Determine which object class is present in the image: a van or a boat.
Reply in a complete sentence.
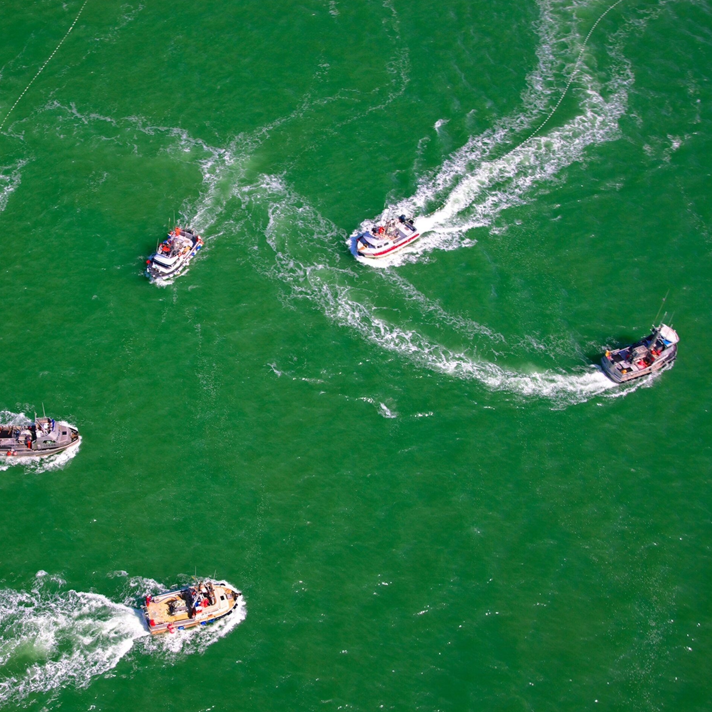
The image shows a boat.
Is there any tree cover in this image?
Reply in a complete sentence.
No, the picture contains no tree cover.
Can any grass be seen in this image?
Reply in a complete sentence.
No, the scene doesn't show any grass.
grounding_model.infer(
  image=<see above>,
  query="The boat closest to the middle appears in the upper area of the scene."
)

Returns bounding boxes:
[356,208,418,258]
